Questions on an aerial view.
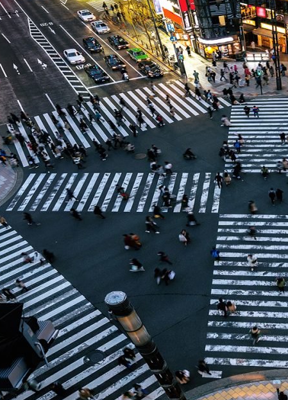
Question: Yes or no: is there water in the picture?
No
